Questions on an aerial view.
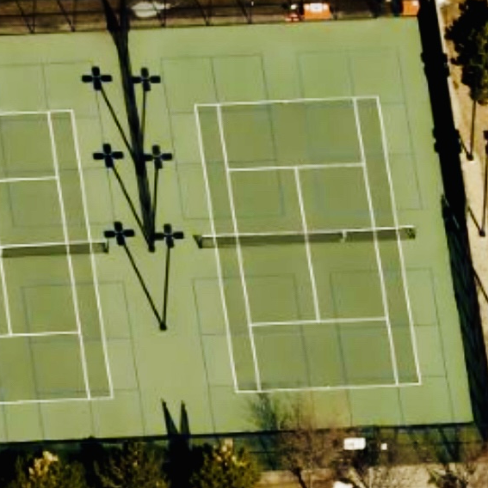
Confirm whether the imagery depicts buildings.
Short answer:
No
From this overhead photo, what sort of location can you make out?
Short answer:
sports ground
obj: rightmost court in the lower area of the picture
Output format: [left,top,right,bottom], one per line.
[328,268,455,436]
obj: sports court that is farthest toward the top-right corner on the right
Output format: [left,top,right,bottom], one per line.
[296,47,421,213]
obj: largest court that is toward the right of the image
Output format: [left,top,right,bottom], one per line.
[195,96,420,392]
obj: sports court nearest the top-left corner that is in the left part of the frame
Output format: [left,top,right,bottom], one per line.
[0,60,116,226]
